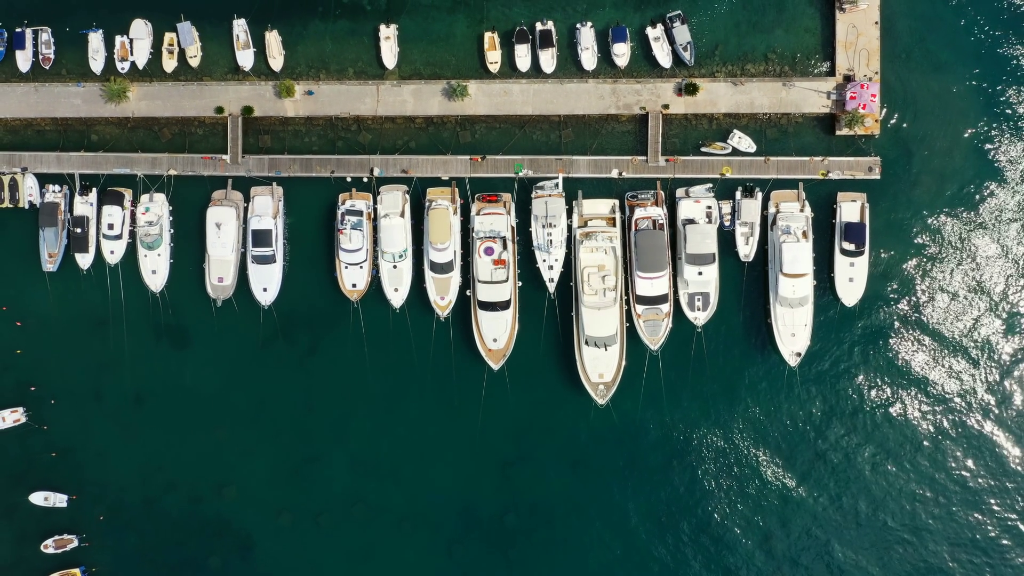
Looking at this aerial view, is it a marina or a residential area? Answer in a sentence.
The picture captures a marina.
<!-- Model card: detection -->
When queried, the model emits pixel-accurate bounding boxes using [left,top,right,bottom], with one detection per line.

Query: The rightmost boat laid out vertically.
[831,192,869,307]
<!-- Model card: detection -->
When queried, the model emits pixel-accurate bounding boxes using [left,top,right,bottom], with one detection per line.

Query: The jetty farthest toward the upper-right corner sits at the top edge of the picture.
[831,0,879,135]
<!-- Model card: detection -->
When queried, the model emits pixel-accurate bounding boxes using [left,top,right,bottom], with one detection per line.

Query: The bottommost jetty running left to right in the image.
[0,153,880,179]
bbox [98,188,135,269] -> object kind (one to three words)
boat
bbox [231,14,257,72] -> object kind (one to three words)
boat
